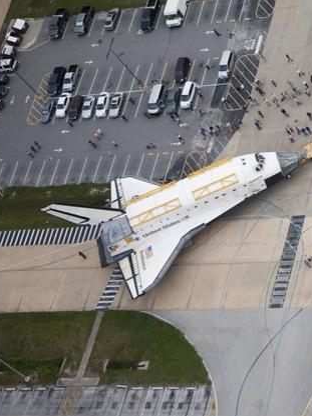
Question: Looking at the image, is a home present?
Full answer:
No, the photo shows no home.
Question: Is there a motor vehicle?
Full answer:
Yes, the frame does contain a motor vehicle.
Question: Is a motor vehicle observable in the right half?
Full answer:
Yes, a motor vehicle can be seen in the right half.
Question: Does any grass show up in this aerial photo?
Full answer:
Yes, there is grass in the image.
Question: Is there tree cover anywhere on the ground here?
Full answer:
No, there is no tree cover in the image.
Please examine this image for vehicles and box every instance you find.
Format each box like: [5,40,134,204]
[145,81,166,116]
[216,50,236,81]
[105,8,121,32]
[174,57,192,84]
[0,45,21,58]
[0,58,18,73]
[108,91,125,118]
[4,35,25,46]
[304,145,312,165]
[81,94,98,121]
[46,65,66,97]
[40,98,57,124]
[48,10,68,40]
[95,91,112,119]
[140,0,159,31]
[74,7,93,37]
[0,72,11,86]
[68,94,85,121]
[61,62,81,94]
[163,86,181,114]
[162,0,188,30]
[55,92,71,119]
[178,79,197,110]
